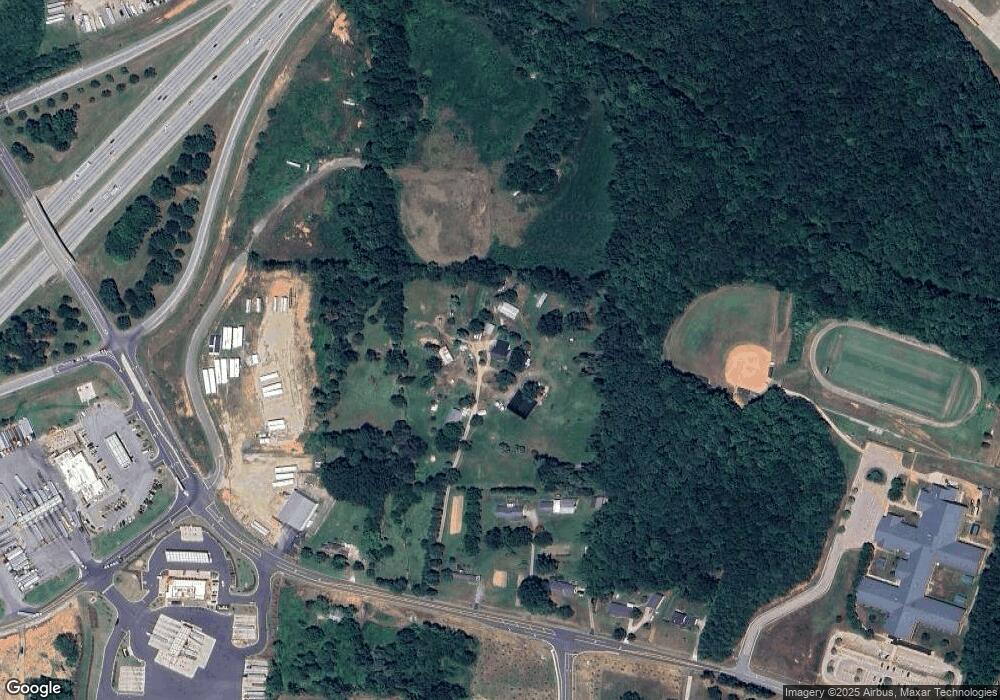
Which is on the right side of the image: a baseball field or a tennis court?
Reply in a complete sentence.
Looking on the right side of the image, you will find a baseball field.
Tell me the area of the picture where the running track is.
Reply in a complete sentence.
The running track is in the right part of the image.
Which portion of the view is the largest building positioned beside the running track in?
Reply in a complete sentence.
You can find the largest building positioned beside the running track in the bottom right area of the picture.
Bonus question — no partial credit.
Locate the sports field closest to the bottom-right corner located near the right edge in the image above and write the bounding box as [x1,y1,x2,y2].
[813,326,976,422]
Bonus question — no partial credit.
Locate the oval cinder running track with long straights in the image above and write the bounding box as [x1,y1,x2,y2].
[809,322,980,426]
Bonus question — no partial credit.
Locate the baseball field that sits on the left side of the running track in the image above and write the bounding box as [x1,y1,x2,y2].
[664,283,783,403]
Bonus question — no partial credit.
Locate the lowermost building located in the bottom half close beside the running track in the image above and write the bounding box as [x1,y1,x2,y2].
[854,479,985,654]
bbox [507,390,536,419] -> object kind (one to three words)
house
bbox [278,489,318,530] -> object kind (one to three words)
building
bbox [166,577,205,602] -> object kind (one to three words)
building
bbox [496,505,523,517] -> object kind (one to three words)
house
